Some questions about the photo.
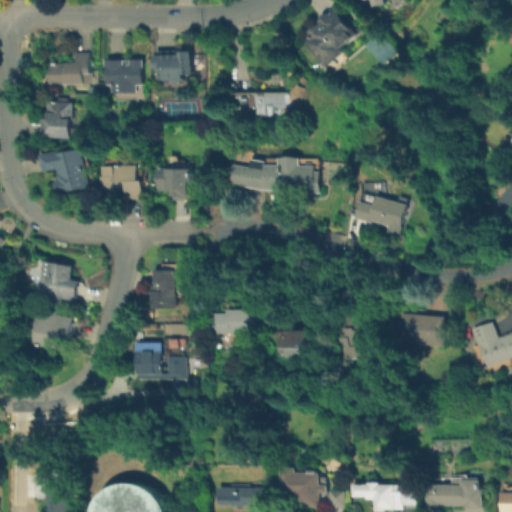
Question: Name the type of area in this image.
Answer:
residential area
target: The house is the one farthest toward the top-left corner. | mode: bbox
[46,48,96,86]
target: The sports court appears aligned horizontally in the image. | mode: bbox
[162,100,201,118]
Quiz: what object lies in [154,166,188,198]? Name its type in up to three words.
house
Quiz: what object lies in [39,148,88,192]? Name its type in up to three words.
house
